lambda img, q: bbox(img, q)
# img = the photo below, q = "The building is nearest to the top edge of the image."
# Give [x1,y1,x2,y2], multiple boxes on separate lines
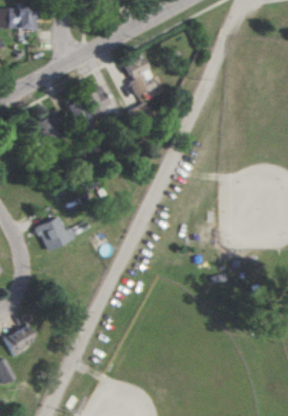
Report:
[0,5,39,42]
